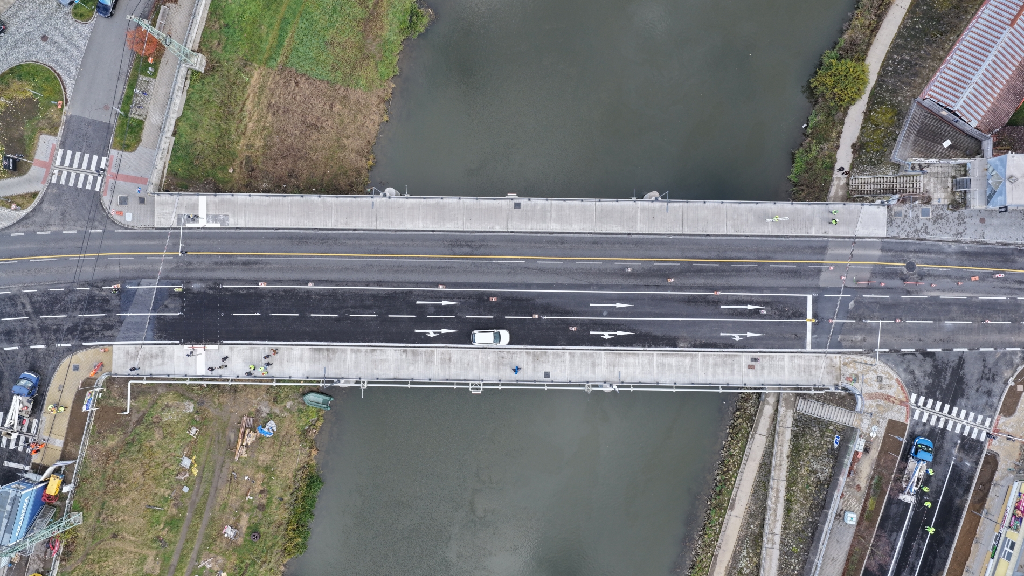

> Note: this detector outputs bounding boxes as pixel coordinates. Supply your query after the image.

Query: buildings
[953,153,1024,210]
[966,472,1024,576]
[914,0,1024,135]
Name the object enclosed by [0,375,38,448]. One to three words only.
truck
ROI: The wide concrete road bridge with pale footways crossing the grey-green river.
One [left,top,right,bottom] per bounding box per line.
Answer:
[106,182,901,394]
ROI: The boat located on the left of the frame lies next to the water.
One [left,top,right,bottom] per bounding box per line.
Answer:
[302,392,334,414]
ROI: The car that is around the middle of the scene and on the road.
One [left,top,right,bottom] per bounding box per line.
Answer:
[471,329,509,348]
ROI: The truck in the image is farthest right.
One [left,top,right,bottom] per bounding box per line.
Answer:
[897,439,942,513]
